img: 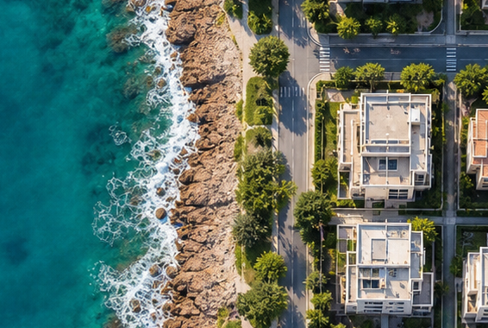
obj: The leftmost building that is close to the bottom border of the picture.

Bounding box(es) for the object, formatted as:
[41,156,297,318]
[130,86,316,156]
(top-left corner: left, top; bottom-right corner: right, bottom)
[336,217,433,312]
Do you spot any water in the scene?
Yes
